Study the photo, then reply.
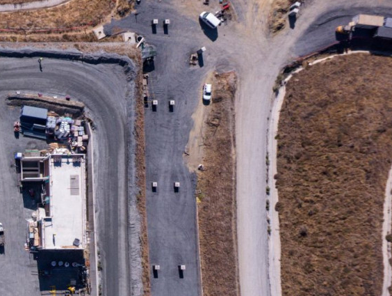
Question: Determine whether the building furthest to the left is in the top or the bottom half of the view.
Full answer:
Seen from above, the building furthest to the left lies in the bottom half of the view.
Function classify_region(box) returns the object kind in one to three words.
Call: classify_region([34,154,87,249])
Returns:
building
